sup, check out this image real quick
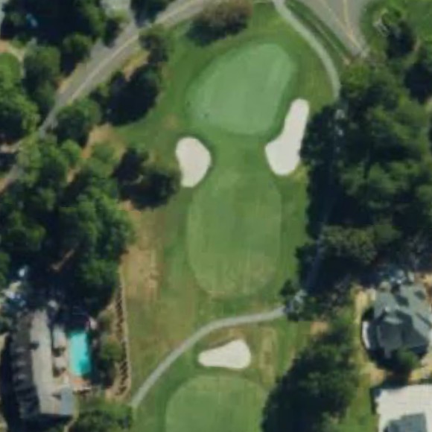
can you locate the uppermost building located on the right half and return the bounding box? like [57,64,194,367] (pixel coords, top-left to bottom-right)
[361,278,432,356]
